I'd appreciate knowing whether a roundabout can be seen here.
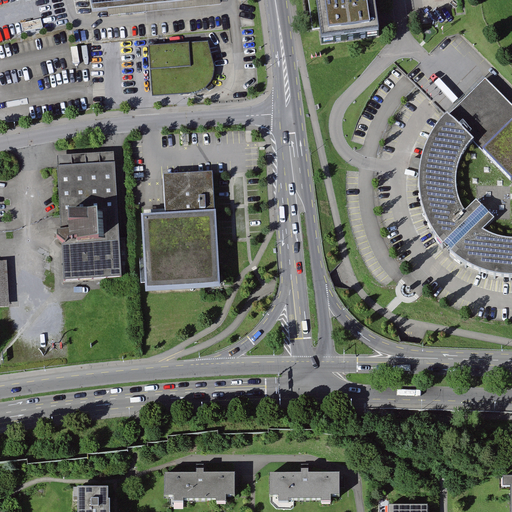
No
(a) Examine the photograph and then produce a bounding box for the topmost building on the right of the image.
[317,0,378,44]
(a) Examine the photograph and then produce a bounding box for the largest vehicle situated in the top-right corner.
[430,74,459,105]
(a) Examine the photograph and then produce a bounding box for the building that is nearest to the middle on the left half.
[140,208,220,294]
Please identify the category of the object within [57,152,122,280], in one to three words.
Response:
building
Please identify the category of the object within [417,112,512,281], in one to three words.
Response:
building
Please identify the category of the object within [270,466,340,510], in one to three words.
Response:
house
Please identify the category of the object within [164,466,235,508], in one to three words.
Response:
house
